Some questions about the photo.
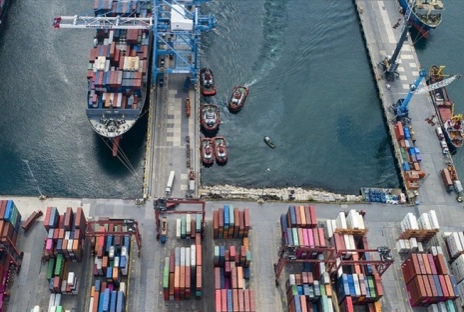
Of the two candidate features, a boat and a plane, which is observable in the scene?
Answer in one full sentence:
The image shows a boat.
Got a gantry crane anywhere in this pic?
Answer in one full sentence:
Yes, there's a gantry crane down there.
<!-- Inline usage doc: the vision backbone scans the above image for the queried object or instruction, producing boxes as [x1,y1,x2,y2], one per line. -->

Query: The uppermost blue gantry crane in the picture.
[153,0,196,36]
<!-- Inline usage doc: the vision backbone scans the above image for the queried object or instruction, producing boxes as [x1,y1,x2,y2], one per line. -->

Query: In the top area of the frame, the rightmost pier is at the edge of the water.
[353,0,464,208]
